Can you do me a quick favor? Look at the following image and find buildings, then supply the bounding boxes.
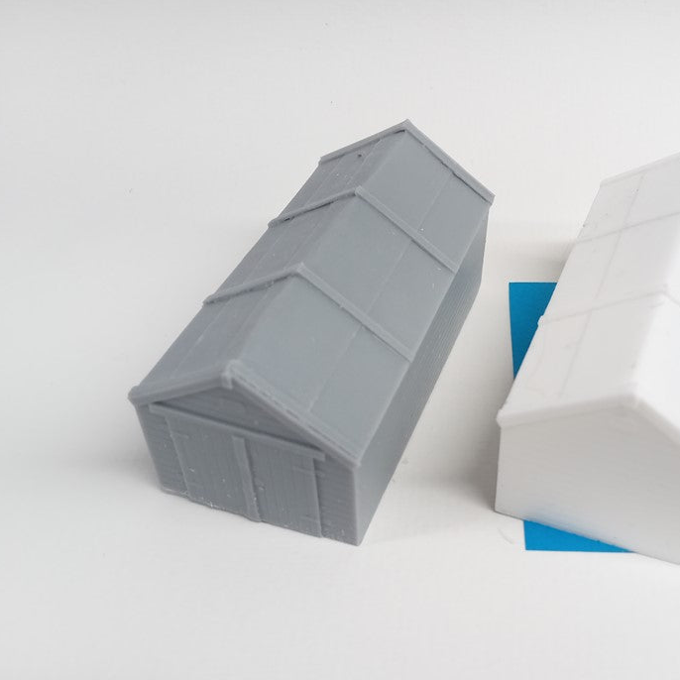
[127,119,497,545]
[496,153,680,562]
